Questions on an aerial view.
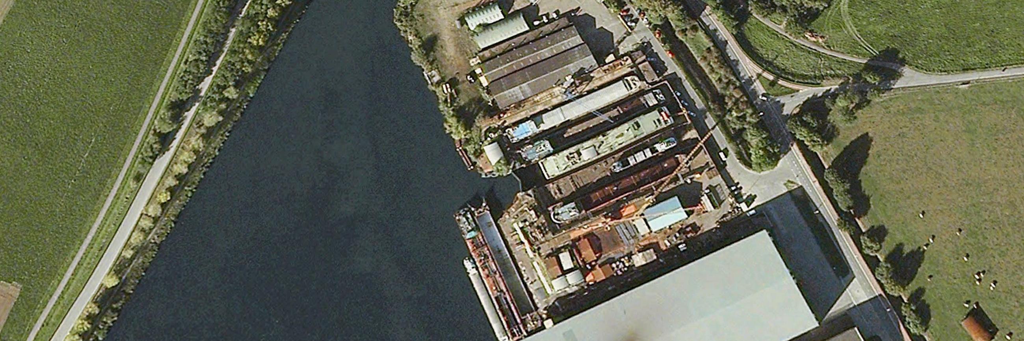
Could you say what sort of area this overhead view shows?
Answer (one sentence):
The area seen from above is a port.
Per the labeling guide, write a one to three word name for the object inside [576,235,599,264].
shed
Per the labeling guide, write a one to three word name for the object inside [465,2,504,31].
building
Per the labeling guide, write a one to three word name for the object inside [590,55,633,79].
ship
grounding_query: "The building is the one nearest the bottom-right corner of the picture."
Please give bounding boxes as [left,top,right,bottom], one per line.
[962,309,997,341]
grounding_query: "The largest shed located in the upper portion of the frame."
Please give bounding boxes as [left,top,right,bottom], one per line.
[478,24,595,110]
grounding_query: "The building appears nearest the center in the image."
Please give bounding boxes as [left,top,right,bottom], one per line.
[483,141,506,167]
